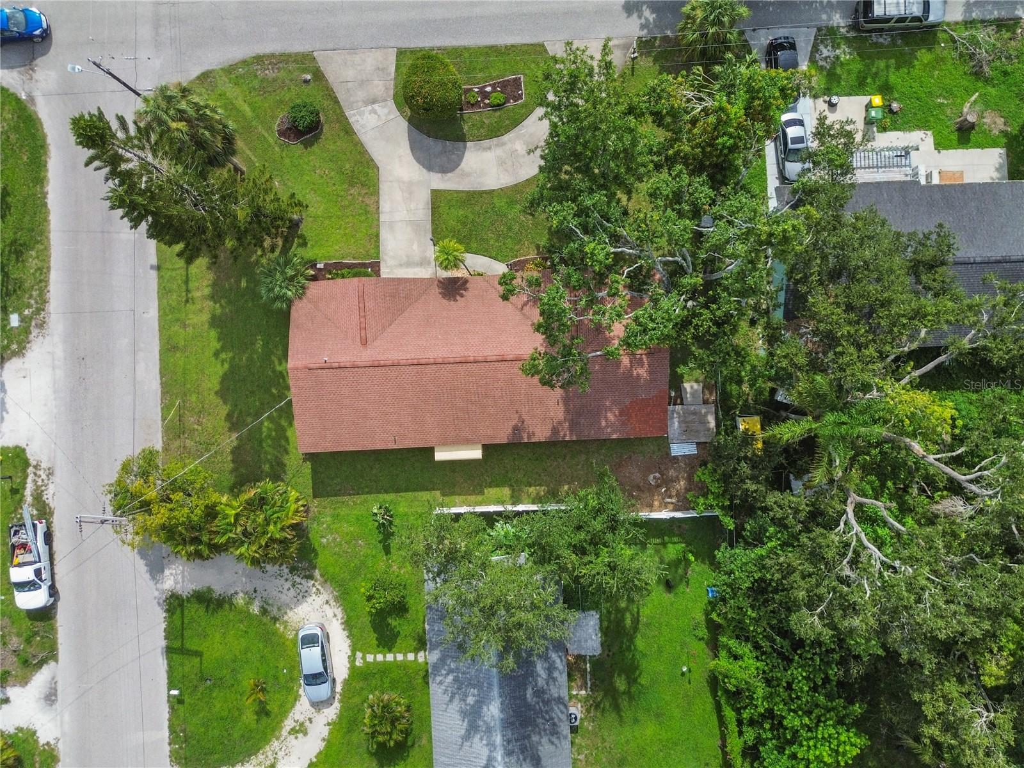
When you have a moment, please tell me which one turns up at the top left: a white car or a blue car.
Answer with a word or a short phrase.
blue car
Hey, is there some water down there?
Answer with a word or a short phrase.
No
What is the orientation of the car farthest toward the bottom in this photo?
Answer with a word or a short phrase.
up and down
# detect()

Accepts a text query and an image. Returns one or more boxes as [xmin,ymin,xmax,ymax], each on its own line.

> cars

[0,2,49,48]
[294,623,337,708]
[761,31,802,86]
[775,109,811,183]
[853,0,941,32]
